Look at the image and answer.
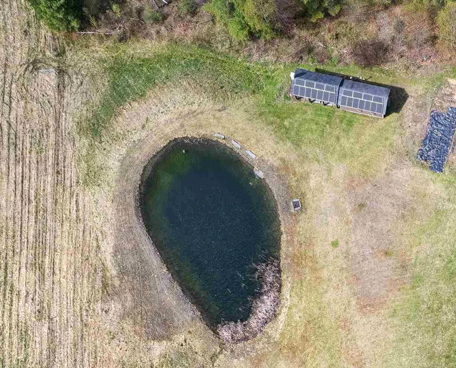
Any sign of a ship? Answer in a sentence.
No, I can't see a single ship in this photo.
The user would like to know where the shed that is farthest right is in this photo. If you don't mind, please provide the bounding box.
[339,78,391,121]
